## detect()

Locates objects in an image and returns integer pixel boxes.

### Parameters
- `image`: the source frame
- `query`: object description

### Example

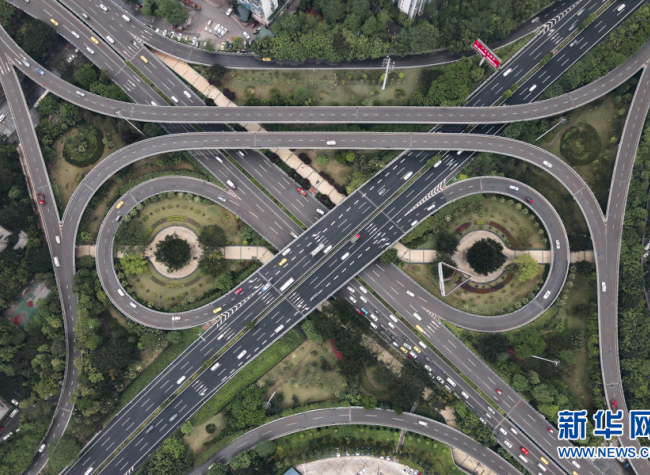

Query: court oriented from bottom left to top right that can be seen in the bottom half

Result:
[3,280,48,328]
